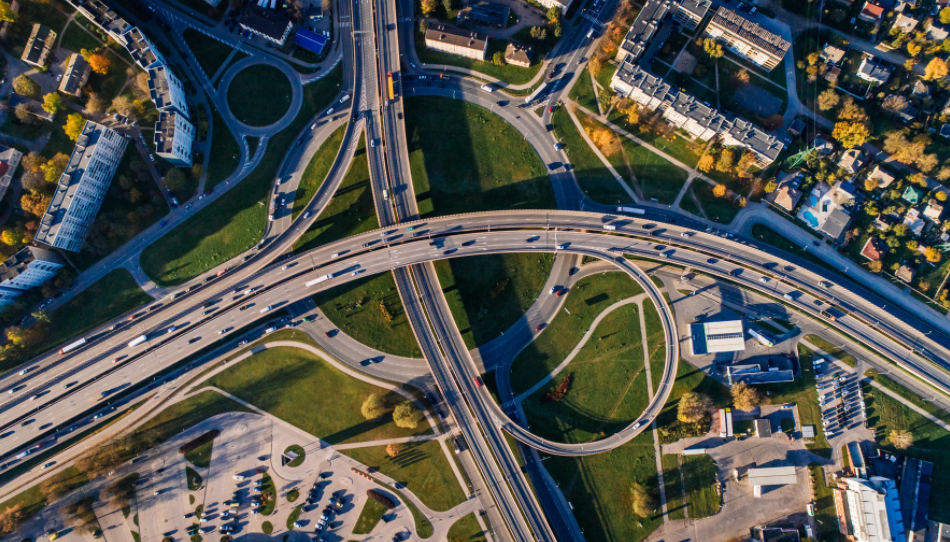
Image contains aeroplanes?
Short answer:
No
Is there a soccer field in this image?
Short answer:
No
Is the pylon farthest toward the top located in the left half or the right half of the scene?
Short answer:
right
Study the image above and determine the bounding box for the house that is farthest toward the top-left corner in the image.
[21,22,58,69]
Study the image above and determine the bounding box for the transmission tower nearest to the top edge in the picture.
[778,149,815,170]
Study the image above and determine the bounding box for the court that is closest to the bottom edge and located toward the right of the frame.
[734,81,783,118]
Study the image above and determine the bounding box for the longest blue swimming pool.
[802,211,820,227]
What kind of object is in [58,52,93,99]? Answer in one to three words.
house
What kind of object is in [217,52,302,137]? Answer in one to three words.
roundabout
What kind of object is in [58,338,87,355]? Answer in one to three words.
vehicle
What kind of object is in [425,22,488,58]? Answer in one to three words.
building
